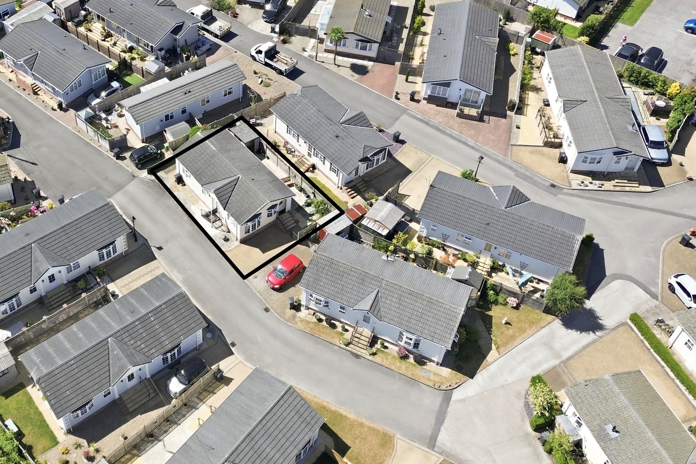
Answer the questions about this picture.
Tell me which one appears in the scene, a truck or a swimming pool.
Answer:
truck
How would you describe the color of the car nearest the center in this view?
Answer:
red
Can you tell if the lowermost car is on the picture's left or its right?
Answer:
left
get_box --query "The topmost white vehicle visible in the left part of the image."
[188,2,233,33]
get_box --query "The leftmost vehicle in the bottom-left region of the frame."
[165,355,212,398]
